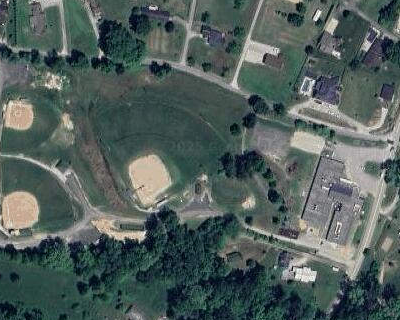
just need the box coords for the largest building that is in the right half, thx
[300,156,361,245]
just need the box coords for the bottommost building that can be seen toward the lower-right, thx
[294,266,319,283]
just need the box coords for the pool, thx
[300,77,314,95]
